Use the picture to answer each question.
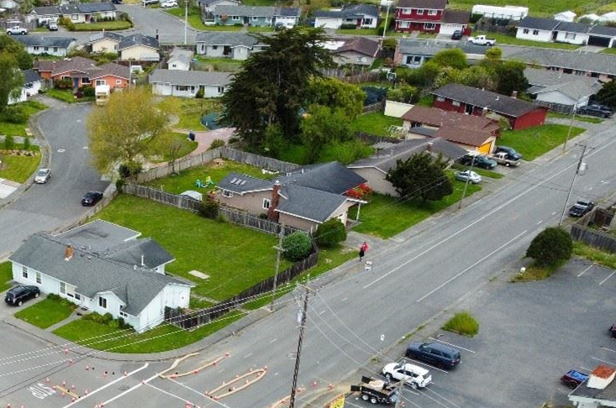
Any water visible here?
No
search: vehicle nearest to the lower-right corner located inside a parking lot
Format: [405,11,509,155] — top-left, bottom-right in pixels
[557,365,590,386]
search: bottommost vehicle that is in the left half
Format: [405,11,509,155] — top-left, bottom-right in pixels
[1,283,42,305]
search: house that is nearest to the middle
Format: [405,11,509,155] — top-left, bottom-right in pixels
[215,163,364,239]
